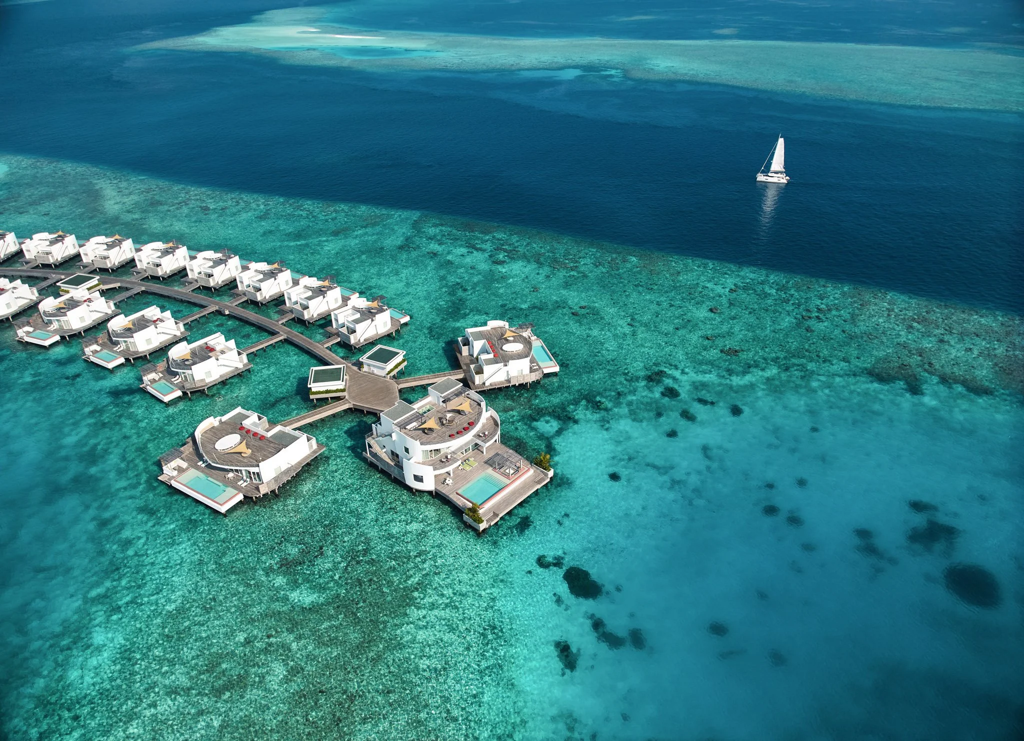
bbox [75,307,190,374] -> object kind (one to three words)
house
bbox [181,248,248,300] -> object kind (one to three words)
house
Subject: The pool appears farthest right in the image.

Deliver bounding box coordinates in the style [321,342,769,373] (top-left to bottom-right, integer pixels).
[530,337,560,374]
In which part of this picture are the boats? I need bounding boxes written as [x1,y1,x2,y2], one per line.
[755,132,792,184]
